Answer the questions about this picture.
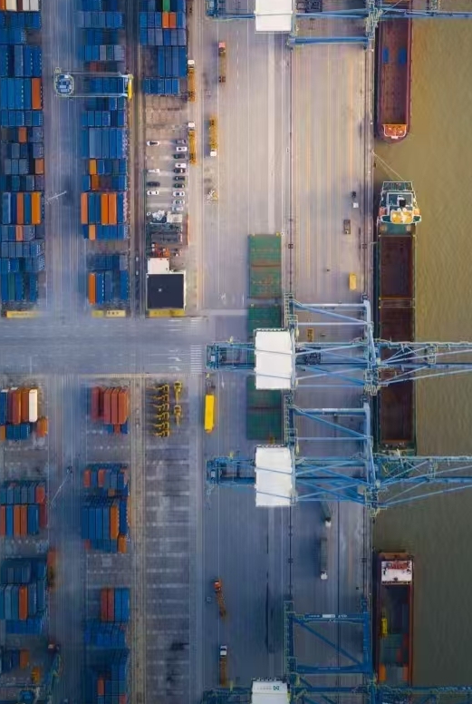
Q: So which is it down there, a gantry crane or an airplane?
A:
gantry crane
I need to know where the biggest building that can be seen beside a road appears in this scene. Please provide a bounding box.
[148,272,187,308]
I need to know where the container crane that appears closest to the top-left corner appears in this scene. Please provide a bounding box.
[52,62,136,111]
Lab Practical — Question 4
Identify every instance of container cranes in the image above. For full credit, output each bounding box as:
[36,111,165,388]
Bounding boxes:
[207,395,472,519]
[208,604,472,704]
[52,62,136,111]
[207,291,472,397]
[205,0,472,60]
